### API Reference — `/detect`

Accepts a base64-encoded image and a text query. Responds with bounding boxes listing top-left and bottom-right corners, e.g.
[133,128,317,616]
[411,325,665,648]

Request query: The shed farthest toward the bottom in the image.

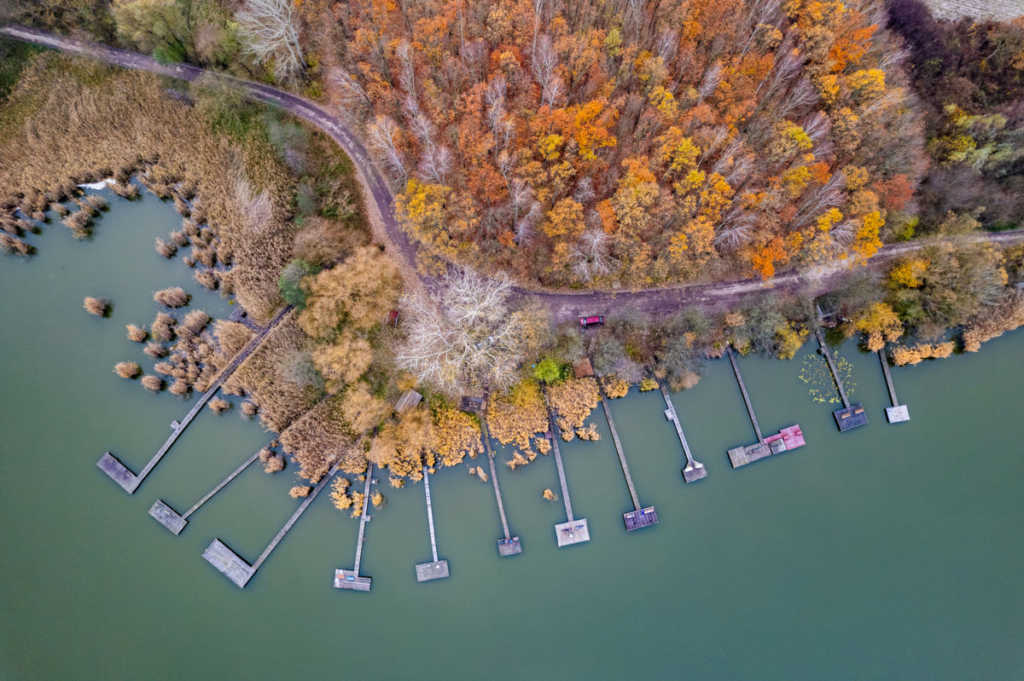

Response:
[395,389,422,414]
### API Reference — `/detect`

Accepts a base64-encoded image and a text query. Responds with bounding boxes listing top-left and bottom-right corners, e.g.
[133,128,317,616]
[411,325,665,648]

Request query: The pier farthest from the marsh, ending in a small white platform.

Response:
[876,336,910,423]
